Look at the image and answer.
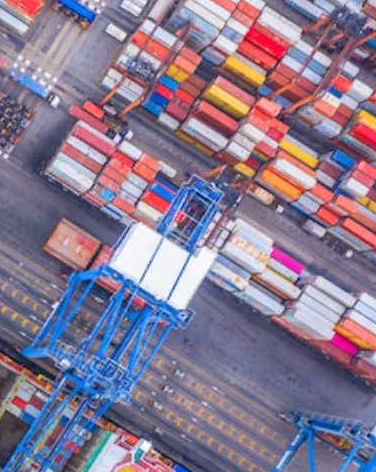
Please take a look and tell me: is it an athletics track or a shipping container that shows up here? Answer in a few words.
shipping container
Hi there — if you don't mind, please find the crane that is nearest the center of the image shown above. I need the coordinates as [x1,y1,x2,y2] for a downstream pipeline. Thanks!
[177,159,261,251]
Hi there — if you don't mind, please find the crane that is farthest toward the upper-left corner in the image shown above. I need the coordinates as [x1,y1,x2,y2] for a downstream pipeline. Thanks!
[95,10,194,122]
